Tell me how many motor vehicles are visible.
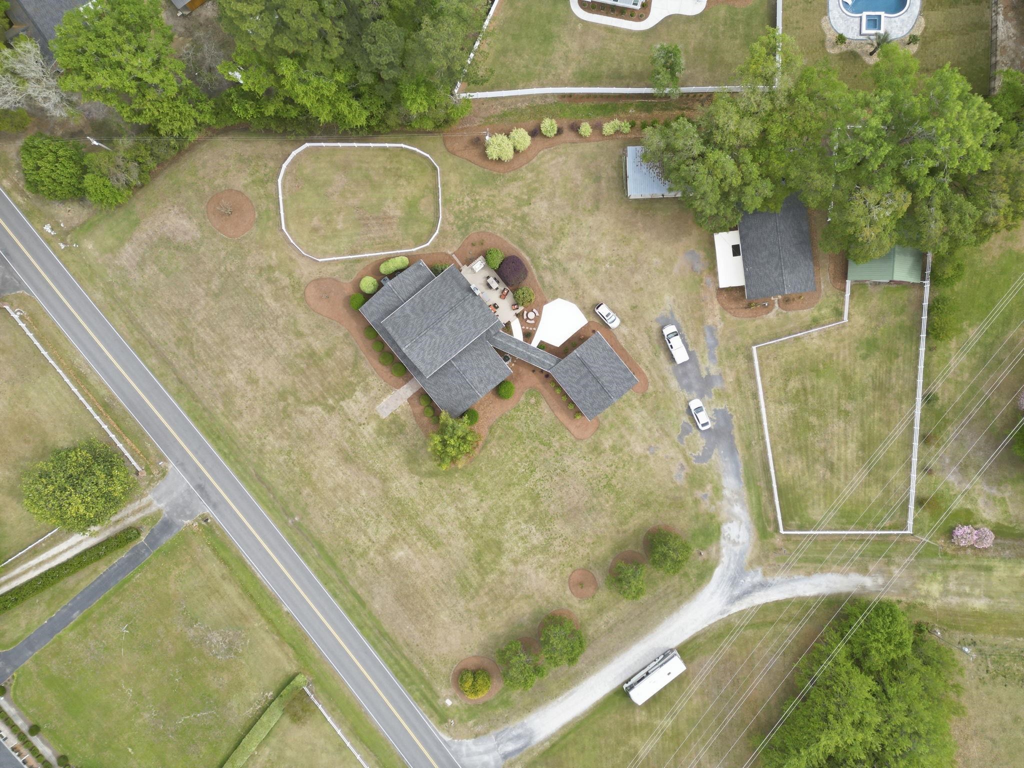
4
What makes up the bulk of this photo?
grass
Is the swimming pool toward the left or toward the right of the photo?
right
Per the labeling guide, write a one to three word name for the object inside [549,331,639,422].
building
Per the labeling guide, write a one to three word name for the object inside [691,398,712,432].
car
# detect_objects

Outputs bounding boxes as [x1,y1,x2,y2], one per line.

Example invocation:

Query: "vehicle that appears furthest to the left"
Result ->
[594,299,619,330]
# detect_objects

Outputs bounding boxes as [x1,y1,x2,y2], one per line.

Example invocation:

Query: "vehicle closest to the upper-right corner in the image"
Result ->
[662,324,692,366]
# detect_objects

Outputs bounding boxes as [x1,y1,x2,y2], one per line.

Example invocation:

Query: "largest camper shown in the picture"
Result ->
[625,647,686,704]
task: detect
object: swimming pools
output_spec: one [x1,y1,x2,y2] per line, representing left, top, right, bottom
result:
[840,0,911,34]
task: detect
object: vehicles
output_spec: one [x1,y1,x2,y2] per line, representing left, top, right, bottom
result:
[625,647,686,704]
[662,324,692,366]
[691,398,712,432]
[594,299,619,330]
